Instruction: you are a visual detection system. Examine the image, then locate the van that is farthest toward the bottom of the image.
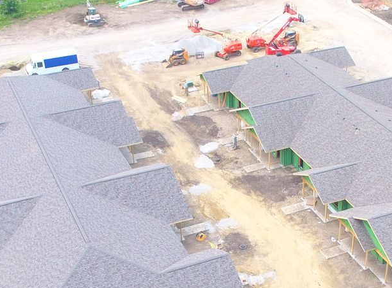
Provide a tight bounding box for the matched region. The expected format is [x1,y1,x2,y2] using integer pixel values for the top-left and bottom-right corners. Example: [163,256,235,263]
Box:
[24,47,77,75]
